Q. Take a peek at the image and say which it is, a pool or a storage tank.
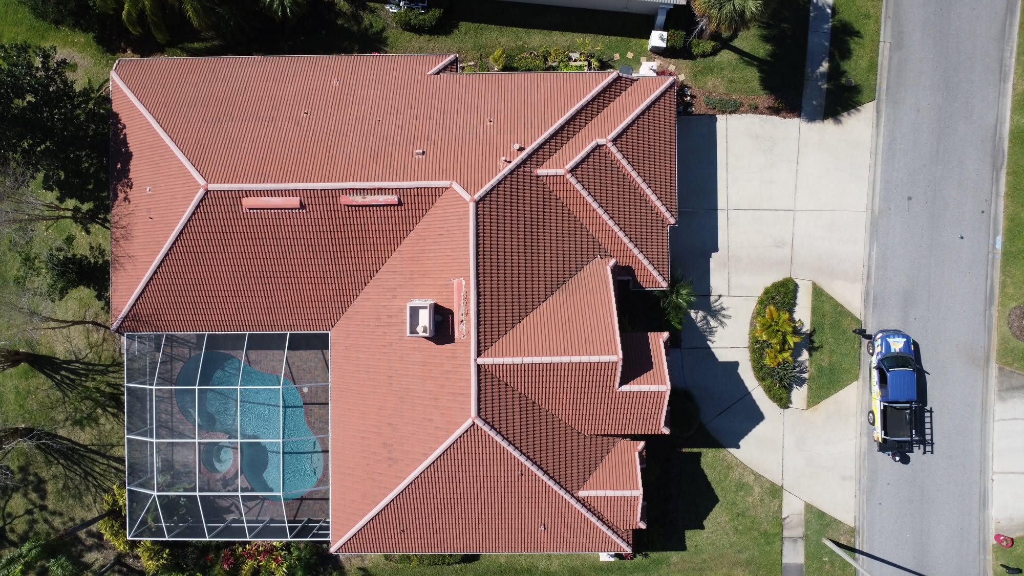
pool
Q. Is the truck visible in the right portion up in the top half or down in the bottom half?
bottom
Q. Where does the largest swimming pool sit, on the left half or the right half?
left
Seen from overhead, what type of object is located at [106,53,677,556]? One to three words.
house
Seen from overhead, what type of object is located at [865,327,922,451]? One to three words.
truck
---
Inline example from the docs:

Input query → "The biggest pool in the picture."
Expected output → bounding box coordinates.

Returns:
[170,346,327,506]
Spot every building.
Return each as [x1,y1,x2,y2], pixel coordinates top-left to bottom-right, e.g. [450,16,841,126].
[106,53,677,556]
[489,0,662,13]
